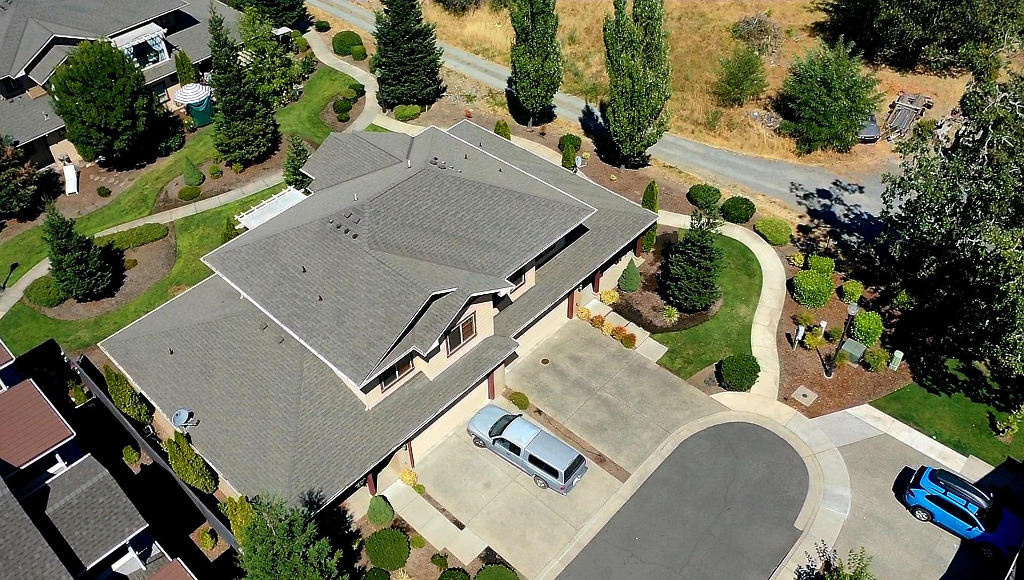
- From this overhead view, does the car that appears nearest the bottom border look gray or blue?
blue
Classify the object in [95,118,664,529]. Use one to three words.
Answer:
house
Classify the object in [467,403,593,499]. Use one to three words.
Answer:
truck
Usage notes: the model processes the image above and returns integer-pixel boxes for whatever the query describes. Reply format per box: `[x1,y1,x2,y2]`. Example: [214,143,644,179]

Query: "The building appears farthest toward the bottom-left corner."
[0,342,199,580]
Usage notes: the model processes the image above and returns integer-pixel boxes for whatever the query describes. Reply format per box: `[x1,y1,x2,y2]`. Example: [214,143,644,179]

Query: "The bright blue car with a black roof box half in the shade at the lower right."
[900,462,1024,566]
